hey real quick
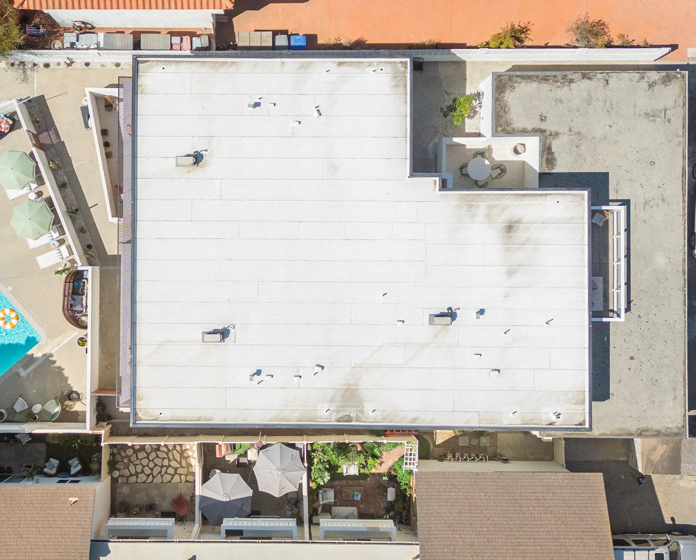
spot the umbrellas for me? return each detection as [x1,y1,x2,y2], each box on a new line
[0,147,37,191]
[253,442,302,497]
[11,195,54,240]
[253,440,264,450]
[200,472,254,523]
